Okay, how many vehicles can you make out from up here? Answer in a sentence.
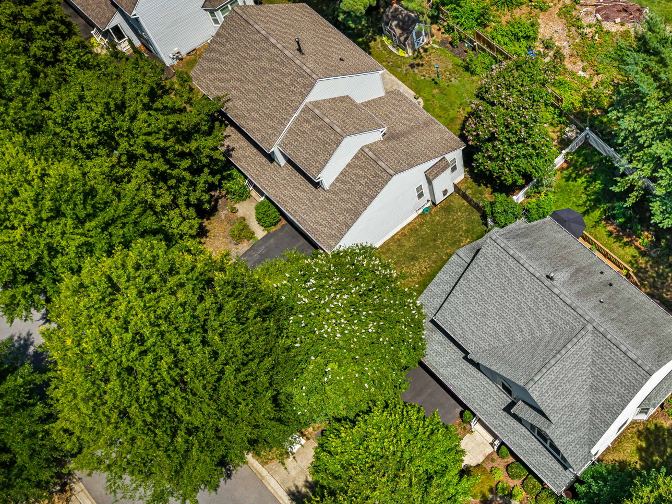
There are no vehicles in the image.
